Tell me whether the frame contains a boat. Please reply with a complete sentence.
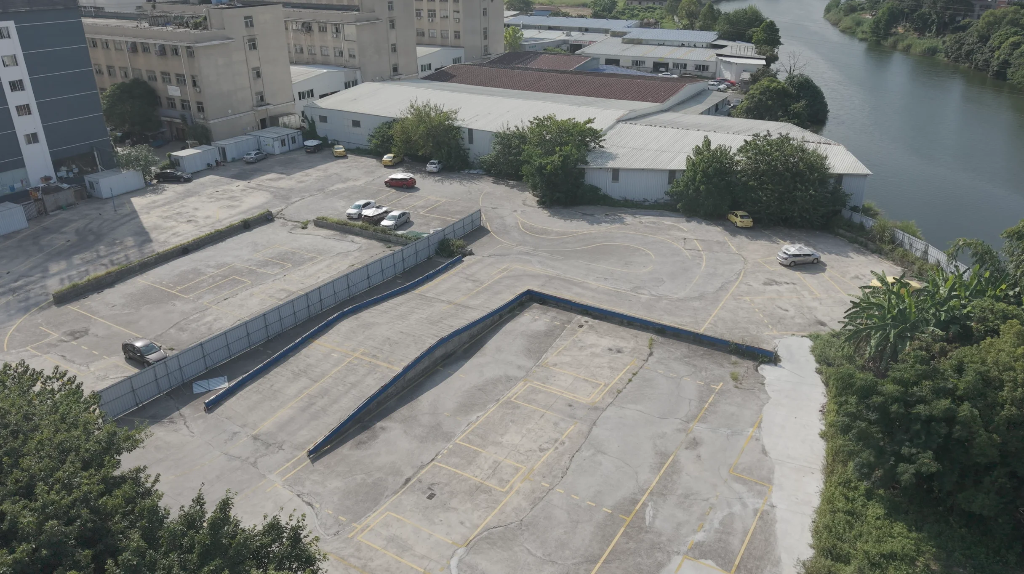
No, there's no boat here.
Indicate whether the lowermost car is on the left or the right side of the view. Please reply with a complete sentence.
The lowermost car sits on the left side.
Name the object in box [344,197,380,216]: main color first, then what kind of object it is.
white car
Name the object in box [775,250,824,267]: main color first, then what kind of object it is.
gray car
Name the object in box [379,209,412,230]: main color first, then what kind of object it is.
gray car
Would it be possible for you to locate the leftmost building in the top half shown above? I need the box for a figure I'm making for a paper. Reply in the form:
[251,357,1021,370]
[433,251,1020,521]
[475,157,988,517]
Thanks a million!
[0,202,28,235]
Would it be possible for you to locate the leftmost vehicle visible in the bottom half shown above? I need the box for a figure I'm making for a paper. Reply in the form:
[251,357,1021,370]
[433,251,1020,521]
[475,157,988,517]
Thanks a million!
[117,335,172,367]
